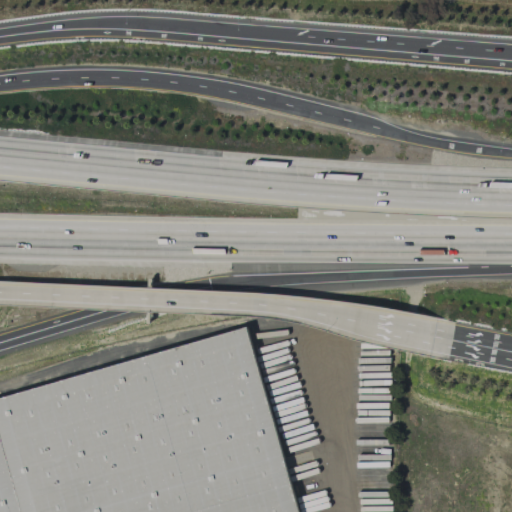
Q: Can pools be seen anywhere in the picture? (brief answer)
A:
No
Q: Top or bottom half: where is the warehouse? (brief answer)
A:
bottom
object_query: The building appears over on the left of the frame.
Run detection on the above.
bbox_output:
[0,328,298,512]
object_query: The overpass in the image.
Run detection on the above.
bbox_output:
[0,278,454,360]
